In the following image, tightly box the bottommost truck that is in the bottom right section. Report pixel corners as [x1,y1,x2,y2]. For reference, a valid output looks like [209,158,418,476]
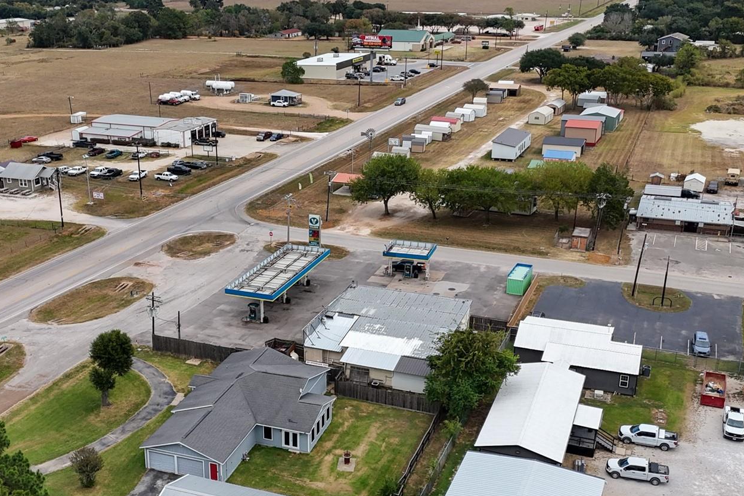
[604,454,671,486]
